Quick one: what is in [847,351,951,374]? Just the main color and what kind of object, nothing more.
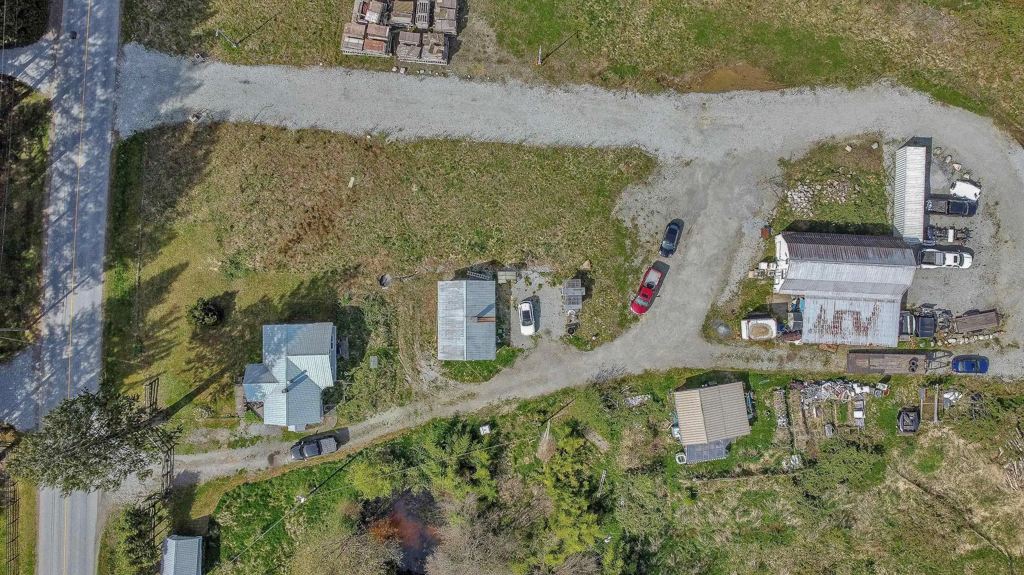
gray trailer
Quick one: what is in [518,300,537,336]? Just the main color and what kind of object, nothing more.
white car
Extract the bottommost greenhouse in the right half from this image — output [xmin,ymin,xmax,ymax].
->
[682,440,726,466]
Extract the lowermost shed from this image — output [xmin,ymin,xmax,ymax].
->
[167,528,212,575]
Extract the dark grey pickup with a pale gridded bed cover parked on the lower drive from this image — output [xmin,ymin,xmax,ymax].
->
[291,434,339,460]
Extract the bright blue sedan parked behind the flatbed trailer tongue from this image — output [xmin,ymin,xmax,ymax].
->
[950,357,988,376]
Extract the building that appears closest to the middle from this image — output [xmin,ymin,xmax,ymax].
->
[438,280,496,362]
